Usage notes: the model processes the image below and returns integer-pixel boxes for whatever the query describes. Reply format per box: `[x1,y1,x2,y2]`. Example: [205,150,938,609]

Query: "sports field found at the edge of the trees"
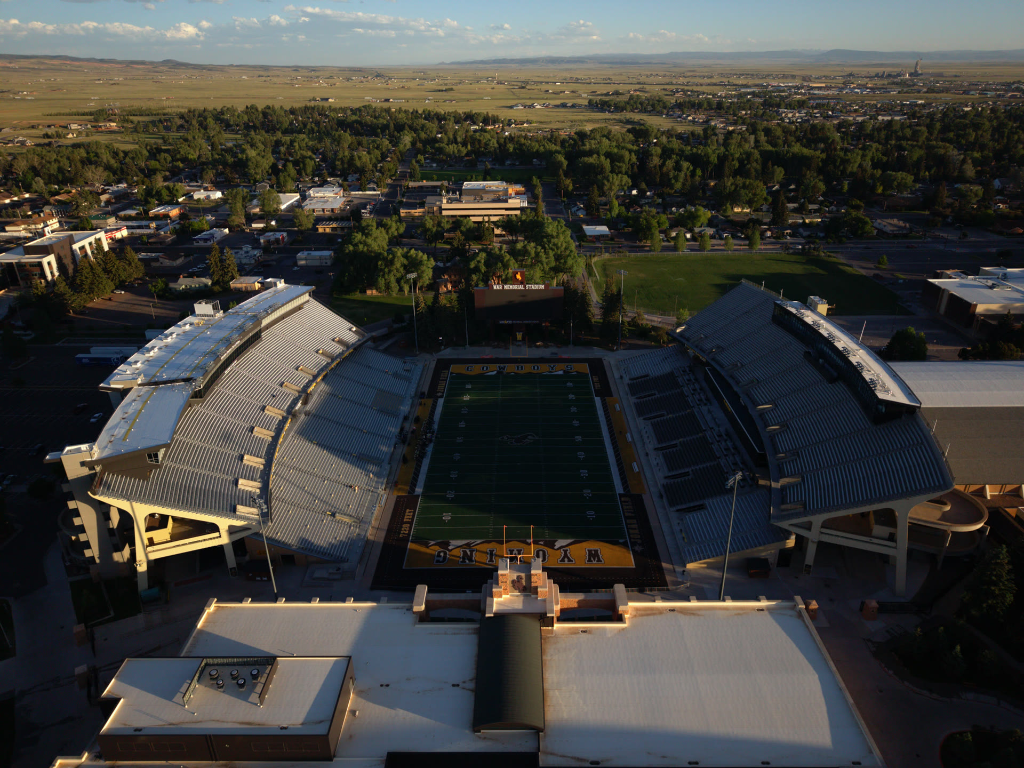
[379,363,660,584]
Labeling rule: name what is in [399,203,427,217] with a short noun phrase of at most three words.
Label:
building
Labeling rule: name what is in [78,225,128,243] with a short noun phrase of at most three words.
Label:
building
